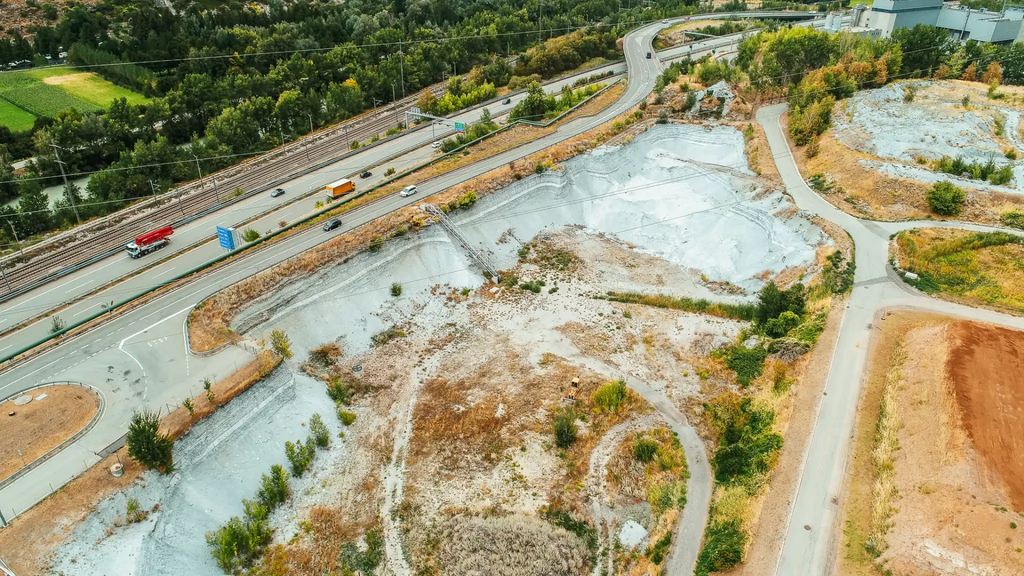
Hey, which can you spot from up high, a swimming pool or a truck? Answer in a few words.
truck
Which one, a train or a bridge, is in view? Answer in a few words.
bridge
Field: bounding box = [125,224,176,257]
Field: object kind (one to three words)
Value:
truck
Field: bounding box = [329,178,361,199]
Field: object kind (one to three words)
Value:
truck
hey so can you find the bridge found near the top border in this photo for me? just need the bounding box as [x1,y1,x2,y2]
[614,11,838,105]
